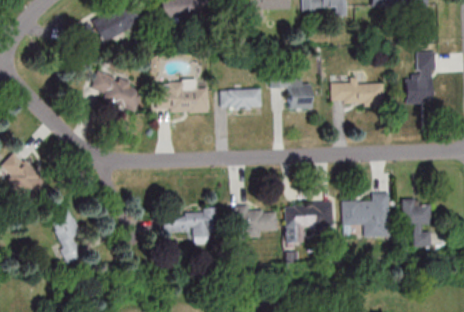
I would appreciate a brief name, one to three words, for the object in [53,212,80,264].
house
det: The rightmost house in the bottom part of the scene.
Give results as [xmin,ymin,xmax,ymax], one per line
[398,197,431,248]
